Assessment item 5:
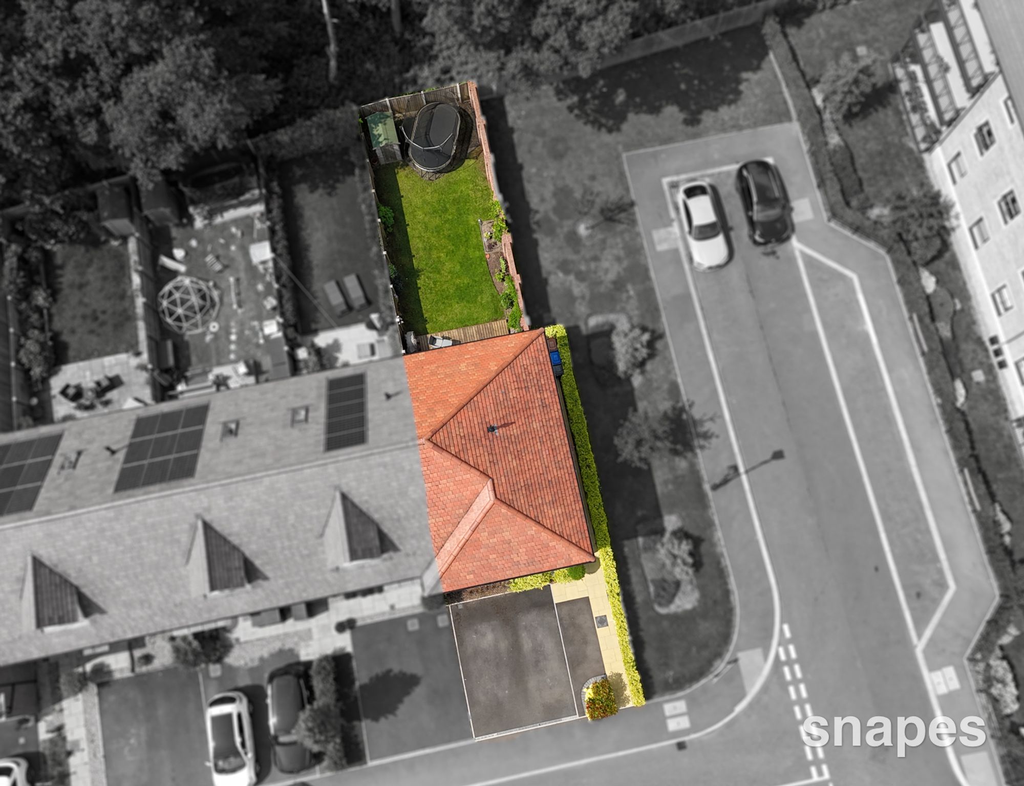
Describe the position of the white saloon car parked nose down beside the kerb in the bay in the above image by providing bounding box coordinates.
[678,178,732,272]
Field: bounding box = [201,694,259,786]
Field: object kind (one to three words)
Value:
car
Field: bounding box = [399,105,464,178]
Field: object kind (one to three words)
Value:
trampoline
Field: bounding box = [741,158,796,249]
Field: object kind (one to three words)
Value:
car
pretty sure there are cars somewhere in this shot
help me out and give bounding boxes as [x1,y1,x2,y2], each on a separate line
[741,158,796,249]
[0,759,35,786]
[263,665,321,773]
[678,178,732,272]
[201,694,259,786]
